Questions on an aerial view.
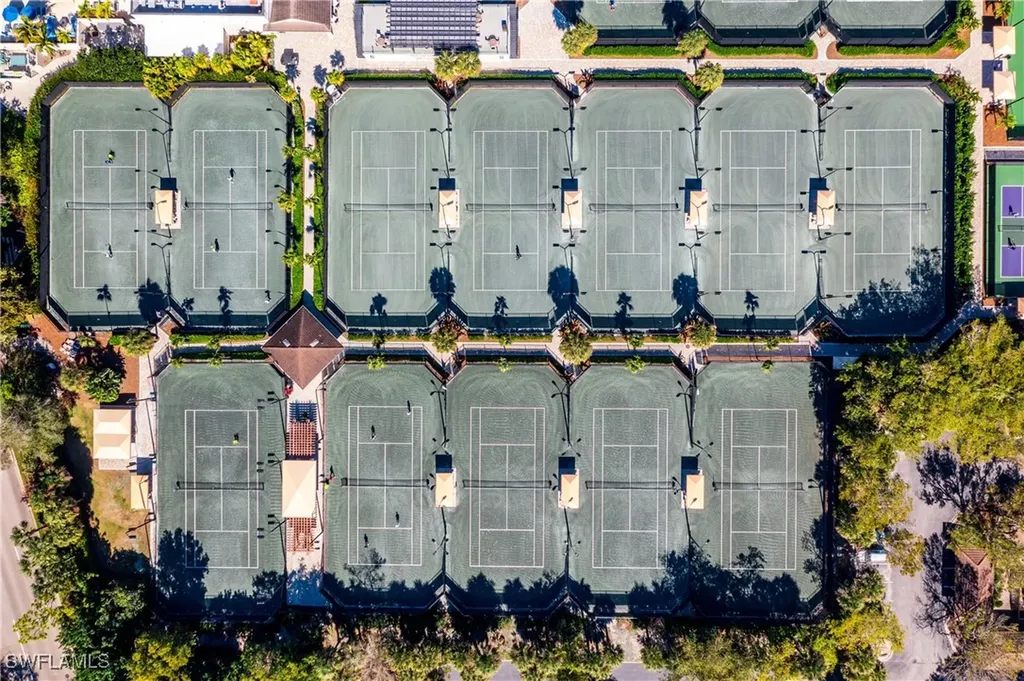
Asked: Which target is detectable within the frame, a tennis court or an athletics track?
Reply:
tennis court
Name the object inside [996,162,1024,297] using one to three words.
sports court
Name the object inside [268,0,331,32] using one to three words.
house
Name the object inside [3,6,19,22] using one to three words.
umbrella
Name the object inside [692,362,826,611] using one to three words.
tennis court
